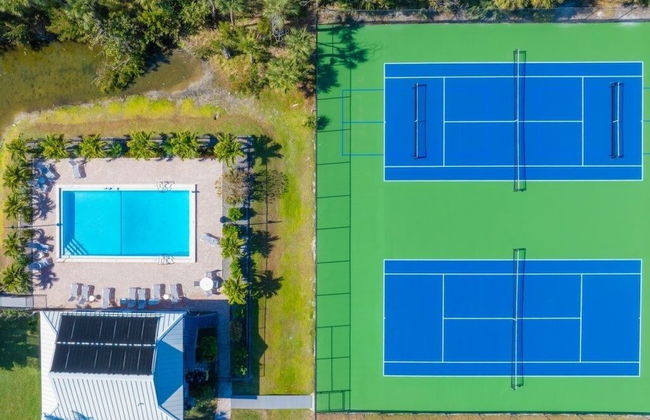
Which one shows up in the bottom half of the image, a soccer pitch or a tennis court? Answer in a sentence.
Visible in the bottom half of the image is a tennis court.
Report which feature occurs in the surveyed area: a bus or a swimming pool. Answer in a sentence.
It is a swimming pool that can be seen here.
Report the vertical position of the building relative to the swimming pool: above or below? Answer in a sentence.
From this view, the building can be seen below the swimming pool.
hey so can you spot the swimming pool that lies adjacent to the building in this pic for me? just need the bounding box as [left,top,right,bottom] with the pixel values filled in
[56,184,195,263]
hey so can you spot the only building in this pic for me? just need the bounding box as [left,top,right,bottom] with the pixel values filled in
[39,308,190,420]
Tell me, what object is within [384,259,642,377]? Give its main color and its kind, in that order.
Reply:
blue tennis court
